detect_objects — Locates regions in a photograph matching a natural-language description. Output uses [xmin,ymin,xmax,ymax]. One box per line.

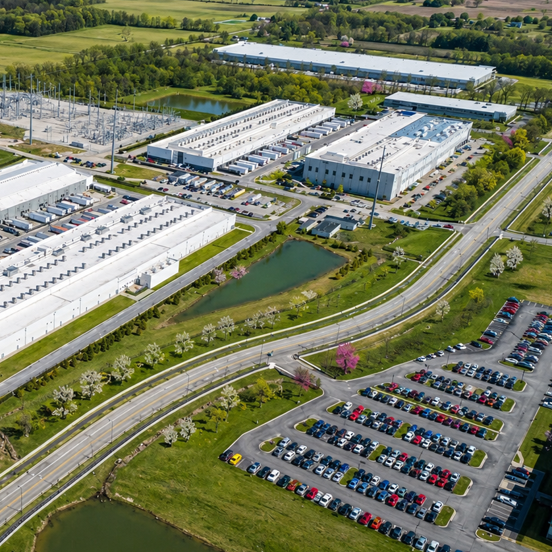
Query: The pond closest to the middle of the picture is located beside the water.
[181,239,344,318]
